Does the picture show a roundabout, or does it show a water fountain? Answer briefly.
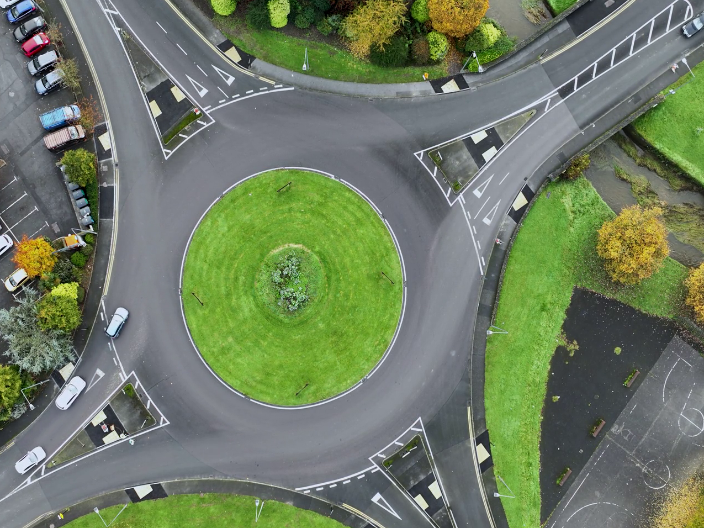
roundabout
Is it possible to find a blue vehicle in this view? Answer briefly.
Yes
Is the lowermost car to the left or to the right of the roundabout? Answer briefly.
left of it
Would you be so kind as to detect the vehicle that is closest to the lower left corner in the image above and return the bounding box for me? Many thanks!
[12,446,48,475]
